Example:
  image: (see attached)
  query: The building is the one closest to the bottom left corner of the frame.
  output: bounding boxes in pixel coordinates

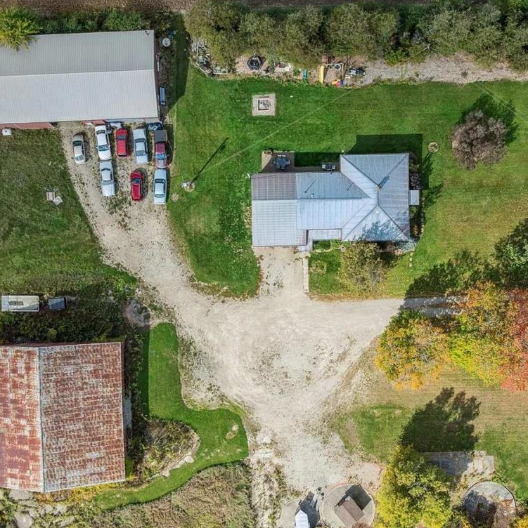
[0,340,138,492]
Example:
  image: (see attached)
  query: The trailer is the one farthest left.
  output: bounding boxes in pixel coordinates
[1,296,43,312]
